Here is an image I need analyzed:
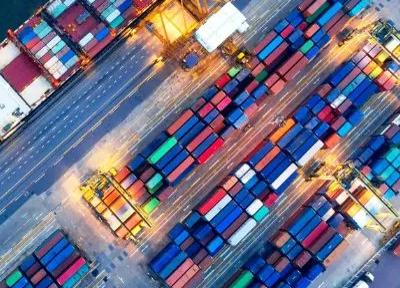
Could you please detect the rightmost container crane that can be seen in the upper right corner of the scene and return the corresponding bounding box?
[338,16,400,63]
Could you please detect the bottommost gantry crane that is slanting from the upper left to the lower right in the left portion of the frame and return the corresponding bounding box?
[80,169,153,244]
